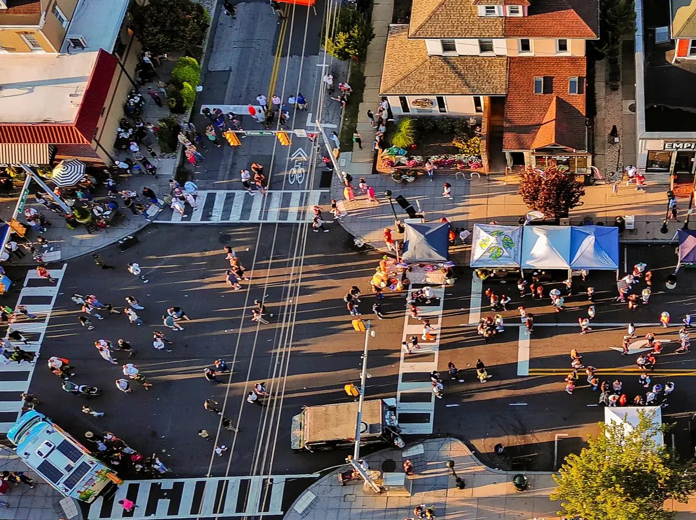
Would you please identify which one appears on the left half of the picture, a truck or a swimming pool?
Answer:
truck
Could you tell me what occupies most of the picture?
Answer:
paved ground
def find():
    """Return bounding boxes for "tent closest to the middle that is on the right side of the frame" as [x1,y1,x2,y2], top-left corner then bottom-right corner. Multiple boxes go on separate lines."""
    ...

[403,227,452,274]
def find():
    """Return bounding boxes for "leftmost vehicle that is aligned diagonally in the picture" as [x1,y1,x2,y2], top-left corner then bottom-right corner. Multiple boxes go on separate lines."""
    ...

[6,409,134,512]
